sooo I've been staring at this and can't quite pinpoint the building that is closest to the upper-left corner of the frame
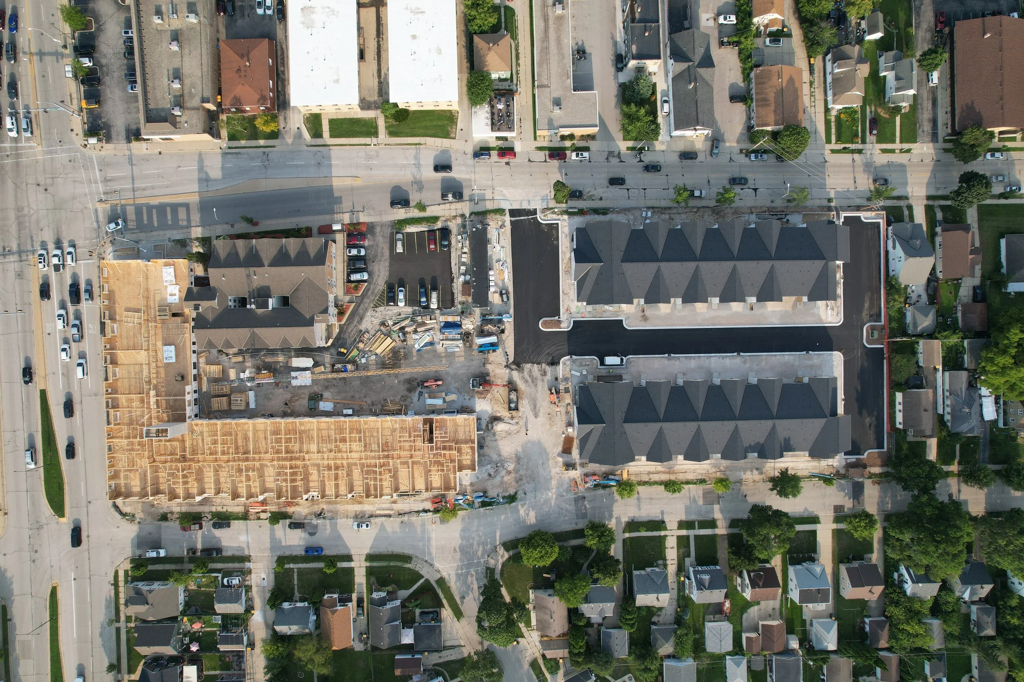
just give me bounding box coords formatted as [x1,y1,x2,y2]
[130,0,218,142]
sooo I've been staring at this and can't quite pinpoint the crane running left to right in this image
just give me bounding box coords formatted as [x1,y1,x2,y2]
[211,361,448,388]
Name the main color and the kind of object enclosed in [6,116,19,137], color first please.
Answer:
white vehicle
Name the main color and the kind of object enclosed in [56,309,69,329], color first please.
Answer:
white vehicle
